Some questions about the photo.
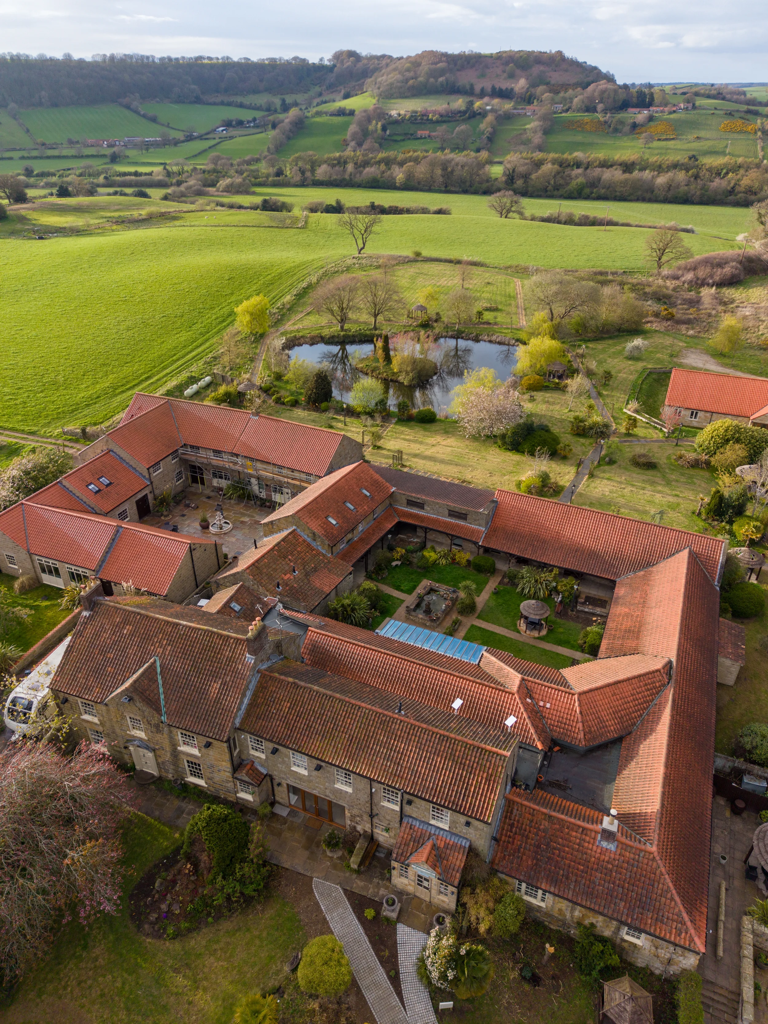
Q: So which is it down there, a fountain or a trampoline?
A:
fountain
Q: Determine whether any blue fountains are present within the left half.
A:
No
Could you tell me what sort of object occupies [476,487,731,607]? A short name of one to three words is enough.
house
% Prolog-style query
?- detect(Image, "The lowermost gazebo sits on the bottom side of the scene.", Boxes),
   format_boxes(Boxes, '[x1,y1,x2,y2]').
[591,970,664,1024]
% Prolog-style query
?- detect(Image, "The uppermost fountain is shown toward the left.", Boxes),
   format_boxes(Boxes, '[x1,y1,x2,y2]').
[205,509,236,537]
